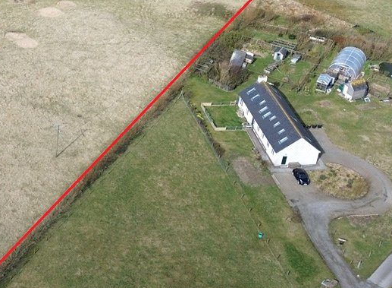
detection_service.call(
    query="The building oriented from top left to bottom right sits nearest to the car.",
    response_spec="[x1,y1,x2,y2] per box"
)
[239,77,321,171]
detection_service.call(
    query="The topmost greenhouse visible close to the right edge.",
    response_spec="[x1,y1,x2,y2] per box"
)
[323,43,373,79]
